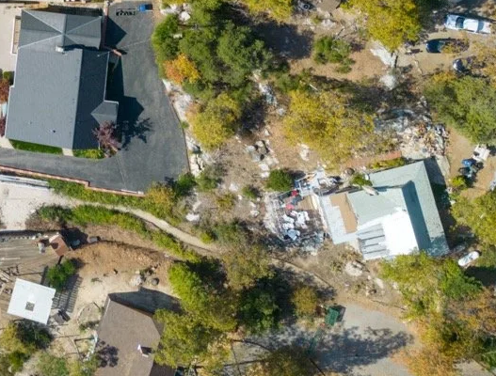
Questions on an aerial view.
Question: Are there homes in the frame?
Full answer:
Yes, the frame does contain a home.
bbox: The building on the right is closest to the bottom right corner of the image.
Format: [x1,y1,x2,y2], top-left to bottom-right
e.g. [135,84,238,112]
[309,155,449,260]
